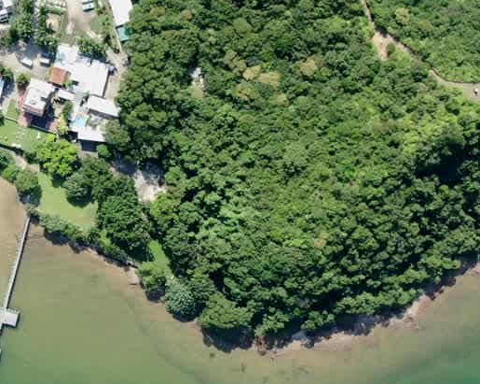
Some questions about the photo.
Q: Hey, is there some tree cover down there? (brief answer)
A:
Yes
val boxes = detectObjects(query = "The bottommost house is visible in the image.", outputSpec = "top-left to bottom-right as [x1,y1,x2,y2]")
[77,125,108,144]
